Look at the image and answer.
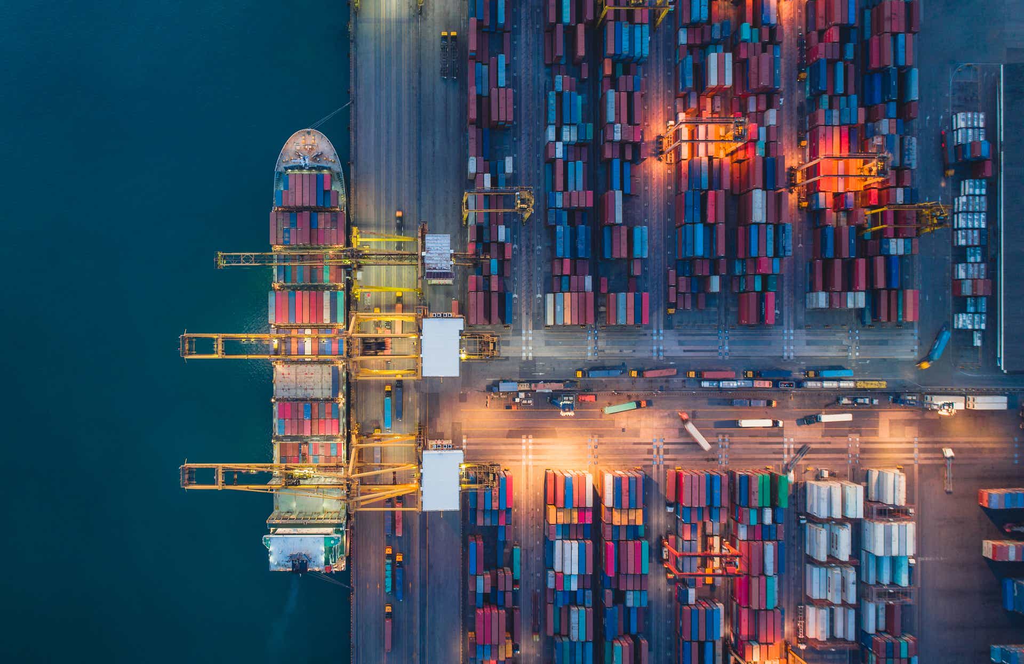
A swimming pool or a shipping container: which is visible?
shipping container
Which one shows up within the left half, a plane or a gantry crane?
gantry crane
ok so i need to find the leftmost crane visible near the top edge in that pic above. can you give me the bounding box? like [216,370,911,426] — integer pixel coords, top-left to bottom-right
[595,0,676,38]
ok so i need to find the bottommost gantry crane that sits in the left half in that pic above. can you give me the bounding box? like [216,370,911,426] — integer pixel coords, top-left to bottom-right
[177,417,498,518]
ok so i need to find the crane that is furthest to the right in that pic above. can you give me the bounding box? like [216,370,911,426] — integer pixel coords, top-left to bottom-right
[861,202,964,240]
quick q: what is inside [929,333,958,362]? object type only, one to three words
shipping container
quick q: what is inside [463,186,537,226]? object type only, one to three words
container crane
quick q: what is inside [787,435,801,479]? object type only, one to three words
vehicle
